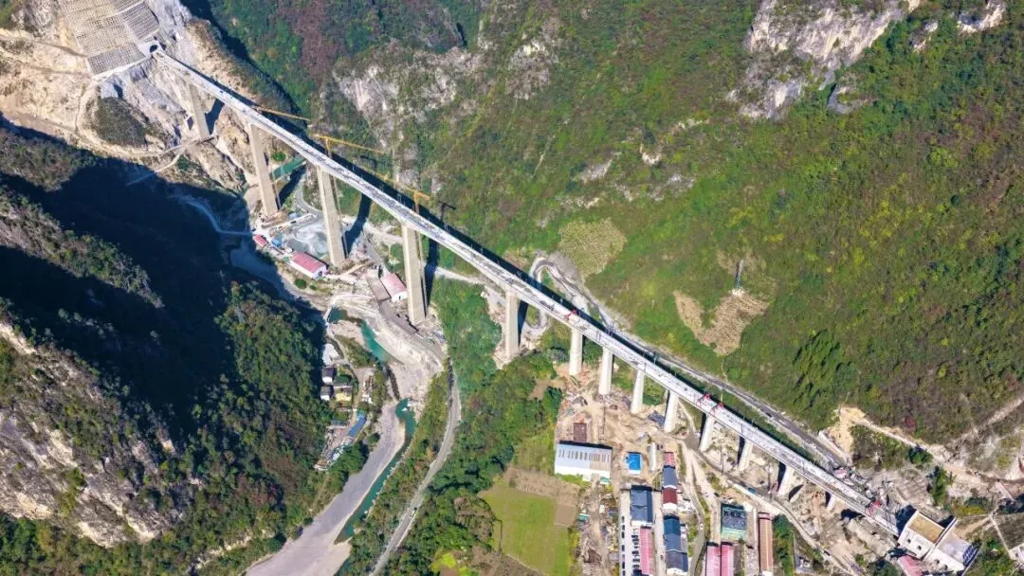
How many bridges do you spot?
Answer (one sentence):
Only 1 bridge is visible.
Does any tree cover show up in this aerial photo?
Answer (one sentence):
Yes, there is tree cover in the image.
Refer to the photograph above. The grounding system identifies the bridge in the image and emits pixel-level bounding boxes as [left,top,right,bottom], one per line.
[152,52,939,567]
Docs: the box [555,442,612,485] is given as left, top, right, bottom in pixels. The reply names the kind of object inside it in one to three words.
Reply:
building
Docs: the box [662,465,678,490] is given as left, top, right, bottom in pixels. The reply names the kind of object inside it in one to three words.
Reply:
house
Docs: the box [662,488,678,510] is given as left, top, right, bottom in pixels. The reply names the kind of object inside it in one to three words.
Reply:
house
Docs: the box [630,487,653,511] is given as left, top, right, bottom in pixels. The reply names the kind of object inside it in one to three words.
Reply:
building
